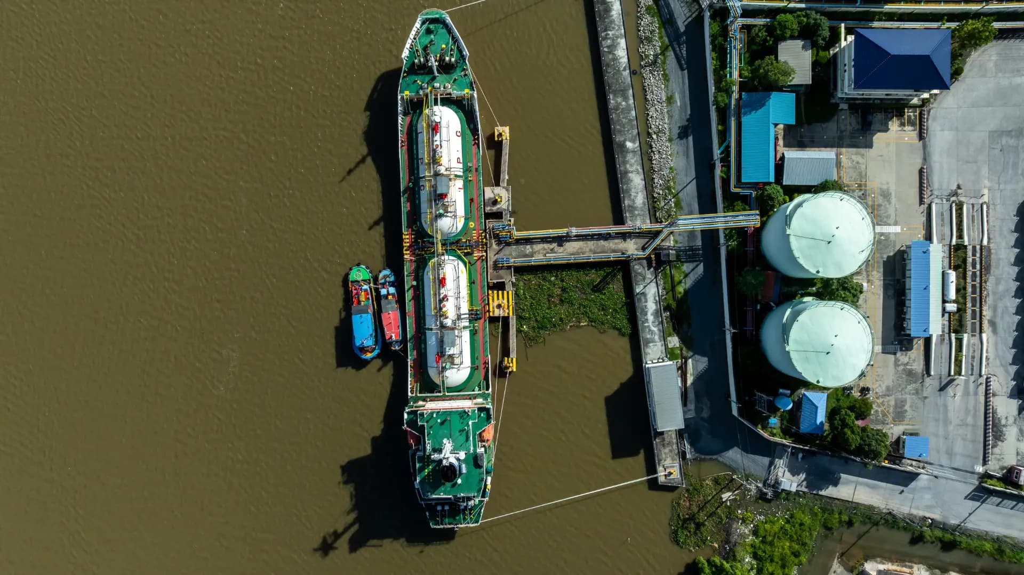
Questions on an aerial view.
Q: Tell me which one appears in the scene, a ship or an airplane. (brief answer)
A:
ship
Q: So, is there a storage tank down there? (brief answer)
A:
Yes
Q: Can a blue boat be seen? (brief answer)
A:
Yes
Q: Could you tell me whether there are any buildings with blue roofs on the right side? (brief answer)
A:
Yes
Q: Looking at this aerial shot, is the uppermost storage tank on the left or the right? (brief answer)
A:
right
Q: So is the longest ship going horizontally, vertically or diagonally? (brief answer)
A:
vertically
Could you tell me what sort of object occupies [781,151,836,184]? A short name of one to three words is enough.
shed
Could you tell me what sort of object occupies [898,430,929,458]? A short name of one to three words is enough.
shed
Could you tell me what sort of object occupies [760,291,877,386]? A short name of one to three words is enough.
storage tank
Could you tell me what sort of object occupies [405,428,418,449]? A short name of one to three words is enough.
boat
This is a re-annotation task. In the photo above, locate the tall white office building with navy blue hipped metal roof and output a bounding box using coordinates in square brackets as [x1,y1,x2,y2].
[834,22,951,108]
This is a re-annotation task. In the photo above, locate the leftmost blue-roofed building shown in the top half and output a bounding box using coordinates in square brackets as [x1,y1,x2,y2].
[739,92,795,182]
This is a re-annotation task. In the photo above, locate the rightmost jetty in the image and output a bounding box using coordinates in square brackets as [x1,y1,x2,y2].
[593,0,685,487]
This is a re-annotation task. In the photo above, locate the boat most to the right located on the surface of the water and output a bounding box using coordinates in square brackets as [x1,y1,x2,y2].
[480,425,492,447]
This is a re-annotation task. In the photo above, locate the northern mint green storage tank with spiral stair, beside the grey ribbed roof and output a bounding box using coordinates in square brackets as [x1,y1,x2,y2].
[761,187,878,278]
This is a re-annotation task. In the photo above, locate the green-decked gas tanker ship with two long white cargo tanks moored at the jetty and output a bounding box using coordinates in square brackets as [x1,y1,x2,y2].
[397,7,493,530]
